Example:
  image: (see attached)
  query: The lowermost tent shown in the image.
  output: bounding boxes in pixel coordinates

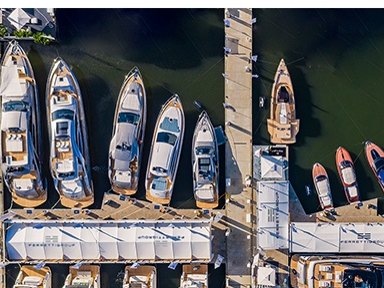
[258,267,276,286]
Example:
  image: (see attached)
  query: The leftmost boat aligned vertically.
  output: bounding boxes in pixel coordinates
[0,39,49,214]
